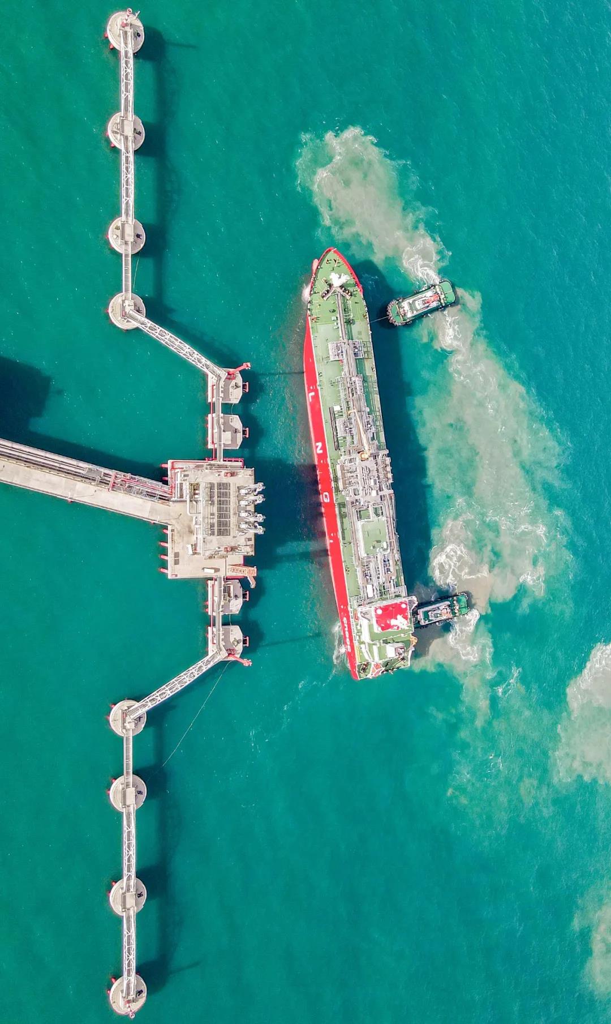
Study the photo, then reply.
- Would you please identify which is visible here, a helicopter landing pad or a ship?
ship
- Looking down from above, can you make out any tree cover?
No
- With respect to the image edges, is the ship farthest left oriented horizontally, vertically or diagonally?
vertically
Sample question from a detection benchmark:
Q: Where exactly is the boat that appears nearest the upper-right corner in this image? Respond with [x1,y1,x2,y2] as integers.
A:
[387,279,456,328]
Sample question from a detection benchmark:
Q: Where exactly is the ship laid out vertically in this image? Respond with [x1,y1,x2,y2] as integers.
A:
[303,245,419,679]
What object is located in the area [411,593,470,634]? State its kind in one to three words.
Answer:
boat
